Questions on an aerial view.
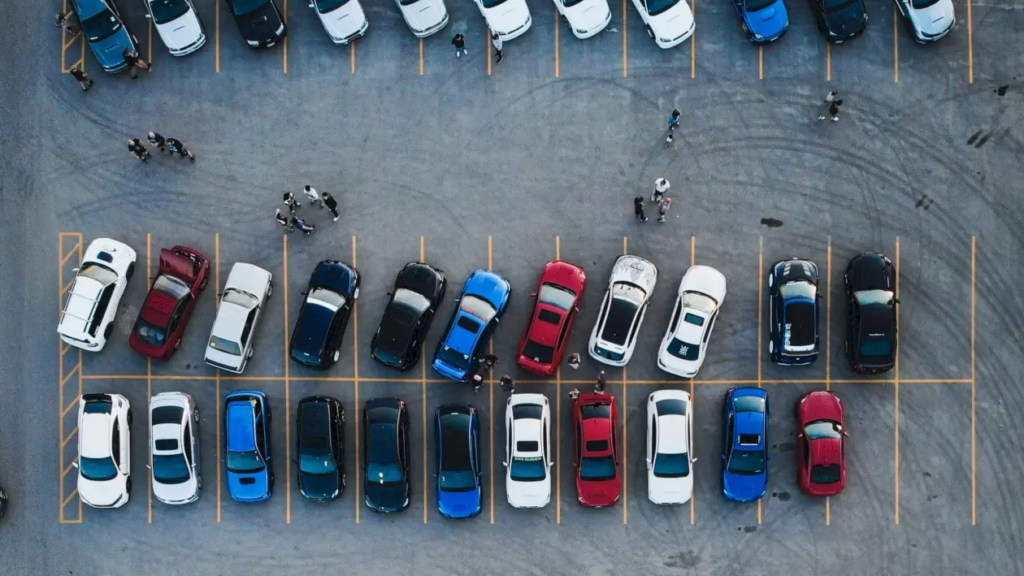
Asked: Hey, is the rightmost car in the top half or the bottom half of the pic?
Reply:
top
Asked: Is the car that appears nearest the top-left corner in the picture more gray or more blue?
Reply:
blue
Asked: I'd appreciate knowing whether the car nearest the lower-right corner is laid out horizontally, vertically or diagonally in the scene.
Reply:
vertically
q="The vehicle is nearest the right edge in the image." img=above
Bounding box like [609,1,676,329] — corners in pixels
[903,0,957,45]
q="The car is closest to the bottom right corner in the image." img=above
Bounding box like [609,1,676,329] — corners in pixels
[797,391,853,497]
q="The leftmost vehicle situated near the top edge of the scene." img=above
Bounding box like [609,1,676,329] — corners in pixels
[55,0,131,79]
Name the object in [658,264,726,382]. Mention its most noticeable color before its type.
white car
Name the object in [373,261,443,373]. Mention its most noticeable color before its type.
black car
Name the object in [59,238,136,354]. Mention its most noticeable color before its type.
white car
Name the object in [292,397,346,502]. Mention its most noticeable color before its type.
black car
